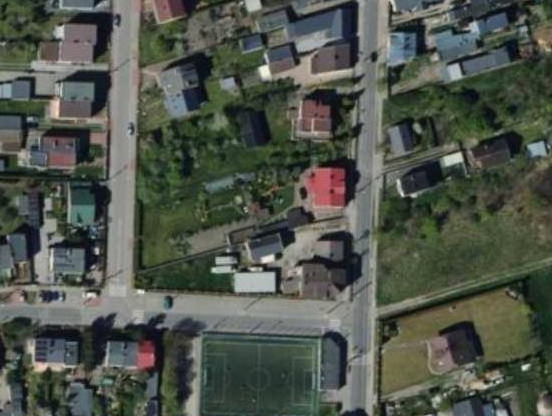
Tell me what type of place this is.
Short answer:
residential area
